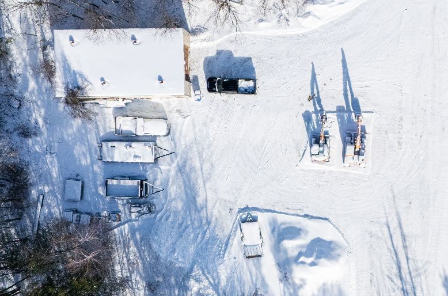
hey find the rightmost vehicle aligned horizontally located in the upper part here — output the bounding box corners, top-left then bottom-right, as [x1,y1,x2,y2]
[206,76,259,96]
